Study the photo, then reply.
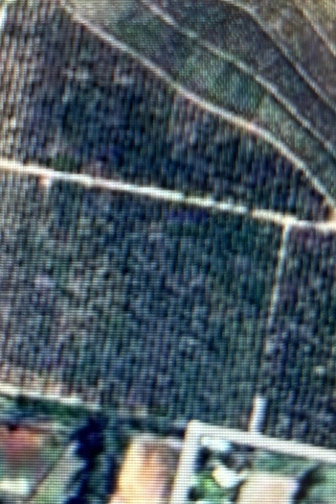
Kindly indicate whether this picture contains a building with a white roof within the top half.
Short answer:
No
